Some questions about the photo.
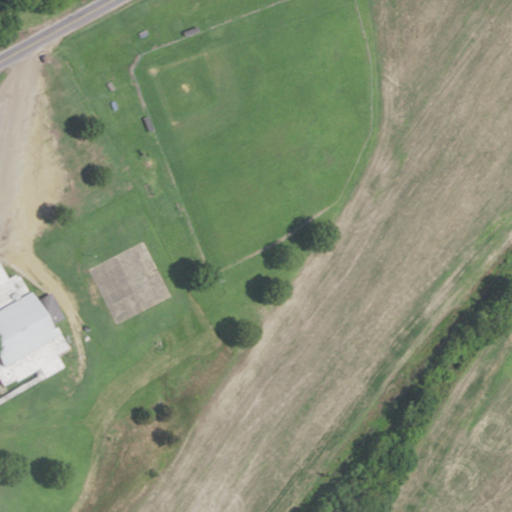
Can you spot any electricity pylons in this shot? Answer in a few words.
No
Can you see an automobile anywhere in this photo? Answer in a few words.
No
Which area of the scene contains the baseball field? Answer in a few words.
top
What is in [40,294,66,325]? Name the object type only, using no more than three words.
shed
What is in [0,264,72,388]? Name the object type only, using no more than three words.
building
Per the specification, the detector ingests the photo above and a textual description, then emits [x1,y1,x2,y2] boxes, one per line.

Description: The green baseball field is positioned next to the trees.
[134,0,372,269]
